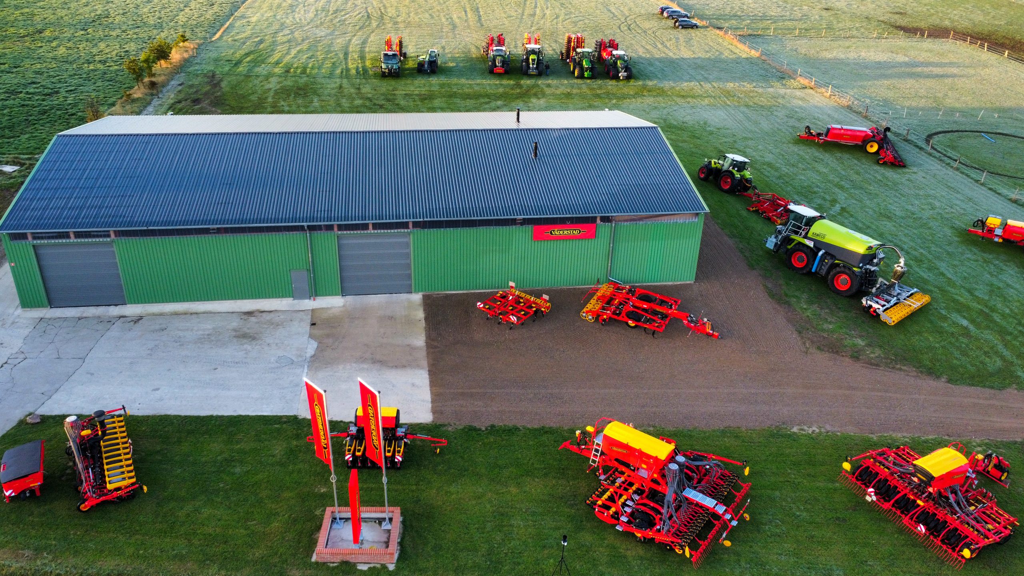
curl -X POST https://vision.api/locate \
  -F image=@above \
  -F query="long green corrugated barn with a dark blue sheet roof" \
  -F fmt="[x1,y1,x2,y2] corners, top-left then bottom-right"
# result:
[0,107,710,310]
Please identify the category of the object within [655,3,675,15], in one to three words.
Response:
vehicle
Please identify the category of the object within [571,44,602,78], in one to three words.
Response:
work vehicle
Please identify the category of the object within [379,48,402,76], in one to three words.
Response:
truck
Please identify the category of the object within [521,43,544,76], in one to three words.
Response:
work vehicle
